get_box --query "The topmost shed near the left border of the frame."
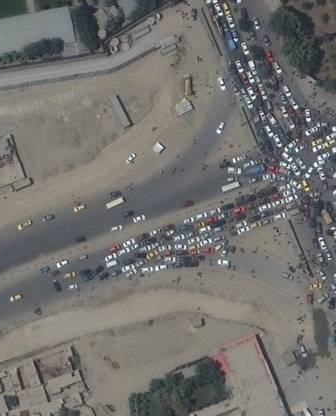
[0,7,74,56]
